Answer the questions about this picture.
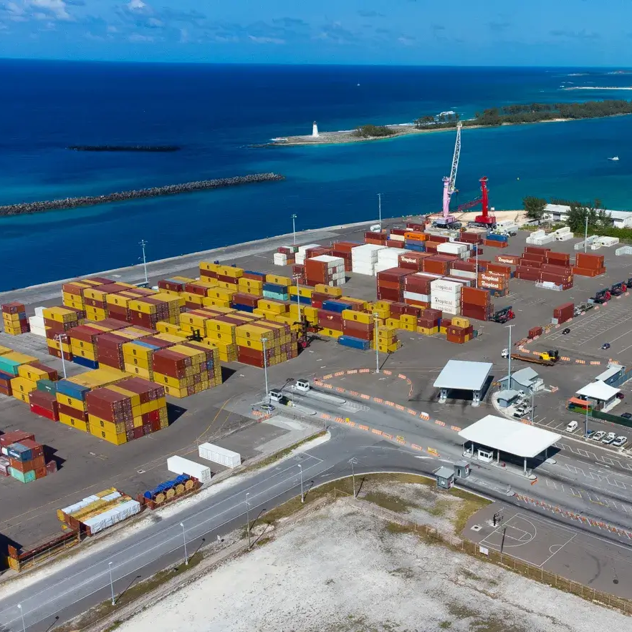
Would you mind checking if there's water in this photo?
Yes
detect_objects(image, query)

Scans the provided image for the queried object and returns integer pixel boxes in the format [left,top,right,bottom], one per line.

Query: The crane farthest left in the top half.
[430,121,462,228]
